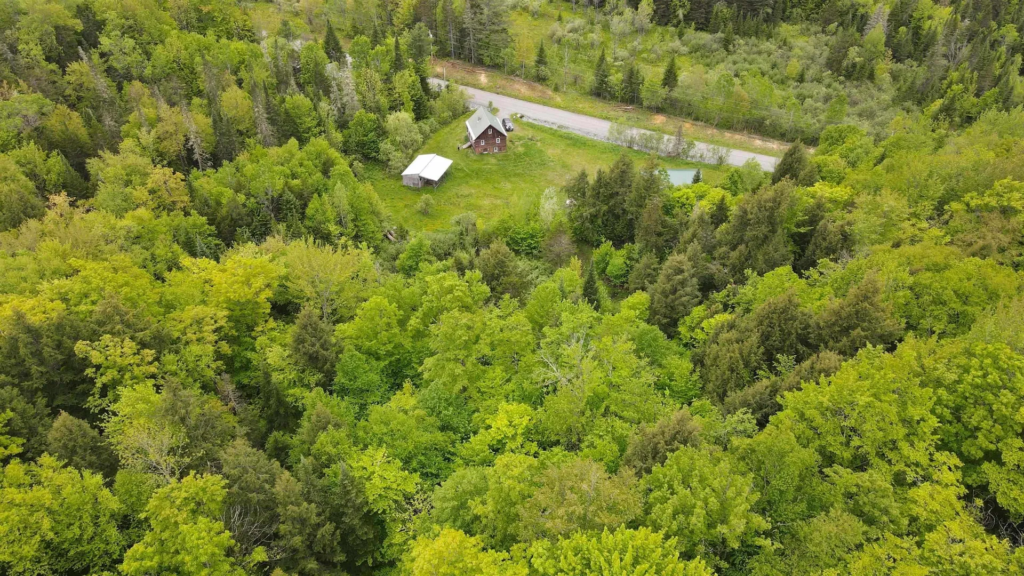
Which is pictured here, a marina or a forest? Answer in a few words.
forest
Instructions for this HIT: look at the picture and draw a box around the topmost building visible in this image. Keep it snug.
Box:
[459,107,508,155]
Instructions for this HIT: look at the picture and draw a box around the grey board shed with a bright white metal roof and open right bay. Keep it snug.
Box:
[400,154,453,191]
